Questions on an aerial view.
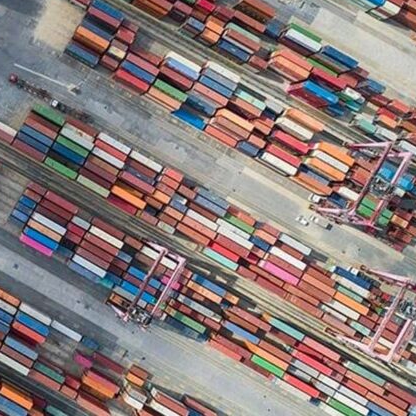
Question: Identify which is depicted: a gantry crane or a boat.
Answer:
gantry crane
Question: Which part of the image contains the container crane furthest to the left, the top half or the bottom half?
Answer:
bottom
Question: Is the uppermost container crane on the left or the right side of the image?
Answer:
right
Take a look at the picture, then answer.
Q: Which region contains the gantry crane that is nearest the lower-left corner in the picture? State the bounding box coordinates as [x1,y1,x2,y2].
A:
[104,237,188,330]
